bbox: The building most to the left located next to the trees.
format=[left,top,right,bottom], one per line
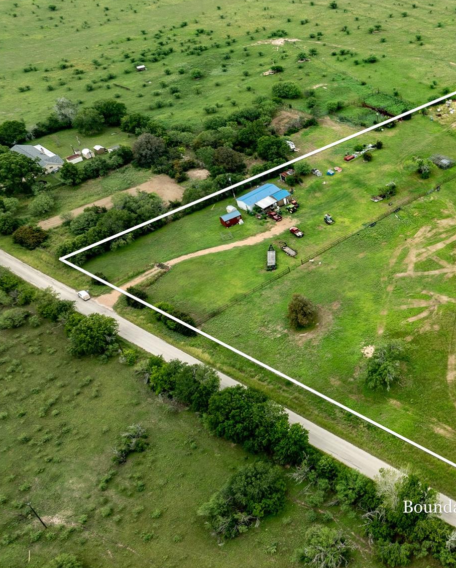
[9,144,58,169]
